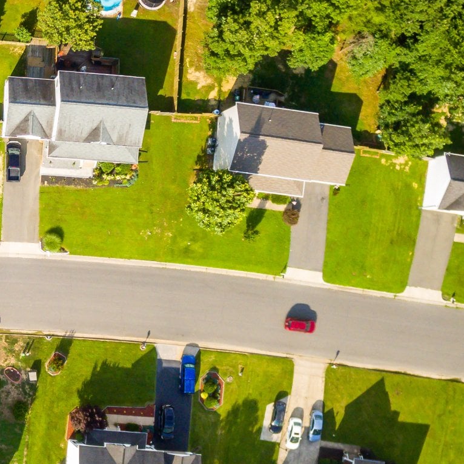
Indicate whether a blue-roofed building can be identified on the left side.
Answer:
No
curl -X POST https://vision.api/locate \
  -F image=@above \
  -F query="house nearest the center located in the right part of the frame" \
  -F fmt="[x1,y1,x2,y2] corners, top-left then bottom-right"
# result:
[215,102,355,198]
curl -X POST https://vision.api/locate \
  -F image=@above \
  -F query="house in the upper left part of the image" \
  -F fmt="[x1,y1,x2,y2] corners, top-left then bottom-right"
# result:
[2,71,149,165]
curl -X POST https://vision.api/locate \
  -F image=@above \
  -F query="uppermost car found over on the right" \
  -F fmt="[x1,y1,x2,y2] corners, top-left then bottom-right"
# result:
[286,318,318,335]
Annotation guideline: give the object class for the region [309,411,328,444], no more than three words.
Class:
car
